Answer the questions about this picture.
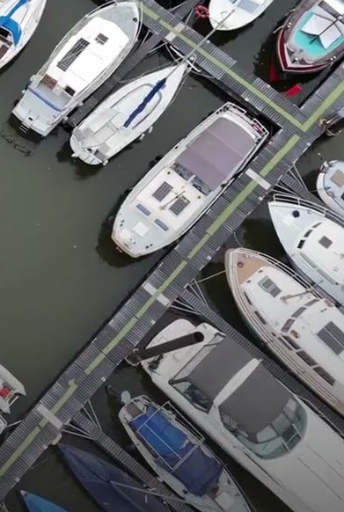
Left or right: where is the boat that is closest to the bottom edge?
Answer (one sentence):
It is on the left.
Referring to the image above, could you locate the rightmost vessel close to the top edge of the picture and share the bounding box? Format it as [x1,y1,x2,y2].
[271,0,344,78]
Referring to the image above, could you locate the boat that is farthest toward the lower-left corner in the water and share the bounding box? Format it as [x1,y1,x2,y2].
[20,489,66,512]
